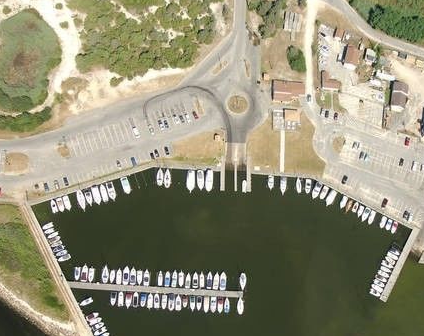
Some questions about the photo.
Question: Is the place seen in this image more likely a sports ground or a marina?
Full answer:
This image shows a marina.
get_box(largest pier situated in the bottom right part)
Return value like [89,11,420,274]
[380,229,418,302]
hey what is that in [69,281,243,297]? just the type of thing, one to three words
pier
